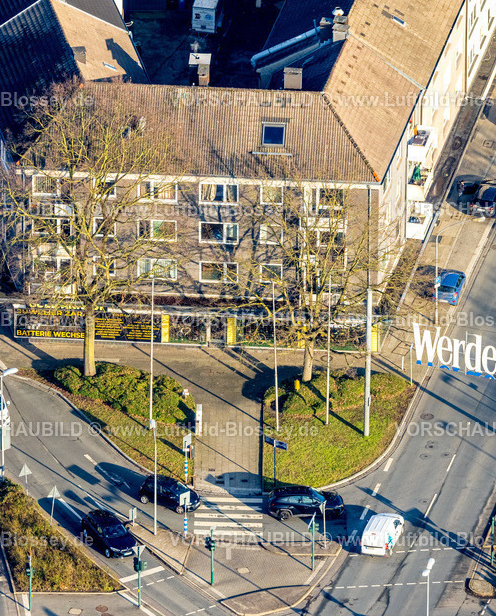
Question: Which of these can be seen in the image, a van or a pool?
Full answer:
Visible in the photo is a van.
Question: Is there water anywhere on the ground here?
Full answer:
No, water can't be seen anywhere here.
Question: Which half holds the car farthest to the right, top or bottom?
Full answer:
It is in the top half that the car farthest to the right appears.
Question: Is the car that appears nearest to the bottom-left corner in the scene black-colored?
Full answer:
Yes, black is the color of the car that appears nearest to the bottom-left corner.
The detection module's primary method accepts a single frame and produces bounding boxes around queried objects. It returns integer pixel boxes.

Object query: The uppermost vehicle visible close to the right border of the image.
[468,172,496,214]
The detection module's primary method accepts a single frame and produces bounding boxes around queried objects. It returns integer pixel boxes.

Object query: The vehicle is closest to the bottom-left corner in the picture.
[76,499,139,556]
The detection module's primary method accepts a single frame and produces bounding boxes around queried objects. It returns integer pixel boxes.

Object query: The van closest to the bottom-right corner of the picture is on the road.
[357,507,406,558]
